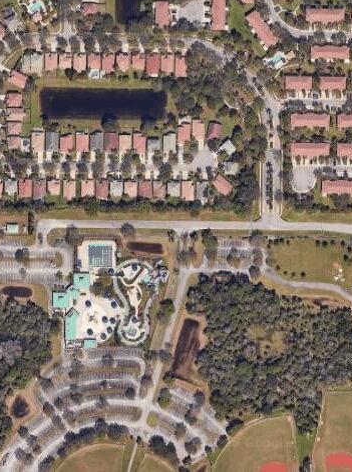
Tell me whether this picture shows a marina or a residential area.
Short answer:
residential area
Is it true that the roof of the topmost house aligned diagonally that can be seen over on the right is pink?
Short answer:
Yes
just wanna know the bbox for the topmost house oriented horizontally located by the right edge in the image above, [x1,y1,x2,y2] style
[305,5,344,21]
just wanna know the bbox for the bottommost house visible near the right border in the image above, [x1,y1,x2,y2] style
[322,179,352,196]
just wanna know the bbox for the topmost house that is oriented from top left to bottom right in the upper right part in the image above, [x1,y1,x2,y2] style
[242,11,280,46]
